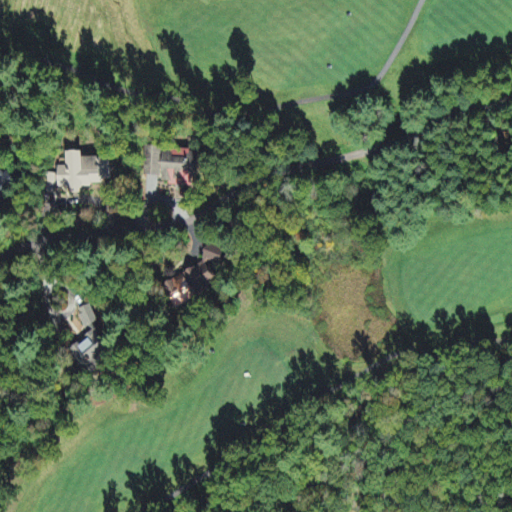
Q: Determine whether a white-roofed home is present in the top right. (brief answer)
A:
No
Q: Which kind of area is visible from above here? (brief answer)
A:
golf course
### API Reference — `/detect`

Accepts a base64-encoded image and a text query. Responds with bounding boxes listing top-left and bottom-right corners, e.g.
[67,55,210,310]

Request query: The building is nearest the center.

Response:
[202,245,221,276]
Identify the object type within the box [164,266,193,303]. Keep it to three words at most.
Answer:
house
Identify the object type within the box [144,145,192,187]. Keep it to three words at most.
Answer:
house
